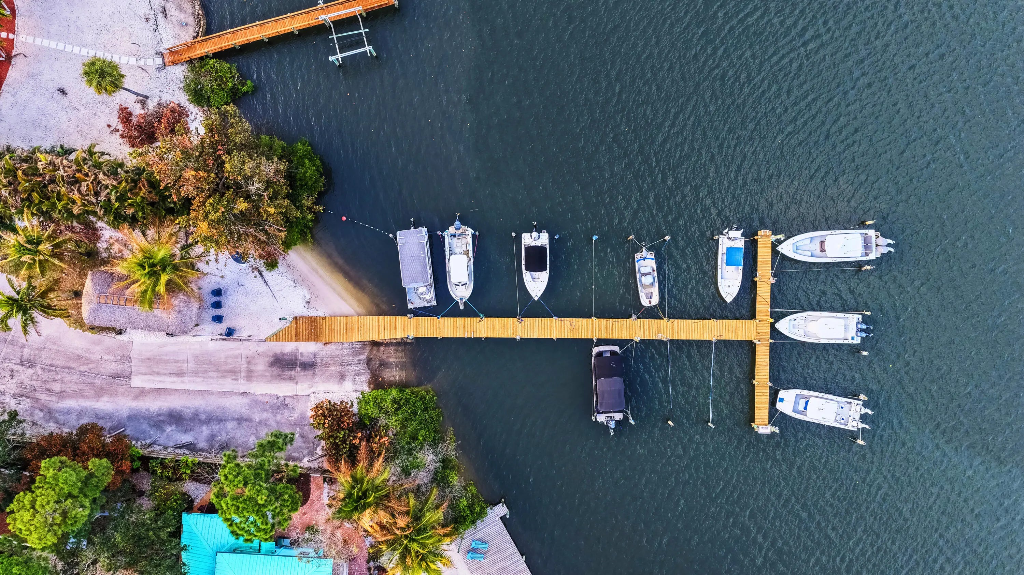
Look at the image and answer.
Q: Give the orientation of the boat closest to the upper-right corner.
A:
horizontally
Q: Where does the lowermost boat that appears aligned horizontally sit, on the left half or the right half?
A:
right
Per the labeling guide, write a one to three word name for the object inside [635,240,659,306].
boat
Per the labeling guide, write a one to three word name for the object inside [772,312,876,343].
boat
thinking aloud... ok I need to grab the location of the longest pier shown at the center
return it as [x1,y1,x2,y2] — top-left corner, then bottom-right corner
[266,229,781,431]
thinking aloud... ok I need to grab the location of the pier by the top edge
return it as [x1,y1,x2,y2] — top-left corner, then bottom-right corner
[159,0,402,65]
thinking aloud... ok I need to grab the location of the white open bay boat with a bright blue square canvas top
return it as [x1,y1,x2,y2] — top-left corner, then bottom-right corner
[716,225,745,303]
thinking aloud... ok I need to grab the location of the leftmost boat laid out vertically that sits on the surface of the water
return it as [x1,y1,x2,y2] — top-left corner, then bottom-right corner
[397,216,437,308]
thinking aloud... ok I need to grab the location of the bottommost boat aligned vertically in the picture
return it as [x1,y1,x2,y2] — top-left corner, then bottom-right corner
[593,345,626,436]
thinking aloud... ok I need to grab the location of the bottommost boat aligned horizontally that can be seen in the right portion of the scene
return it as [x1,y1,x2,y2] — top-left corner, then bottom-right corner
[775,389,875,430]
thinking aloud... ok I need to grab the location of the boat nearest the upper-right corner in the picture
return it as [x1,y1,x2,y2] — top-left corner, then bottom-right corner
[773,228,895,263]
